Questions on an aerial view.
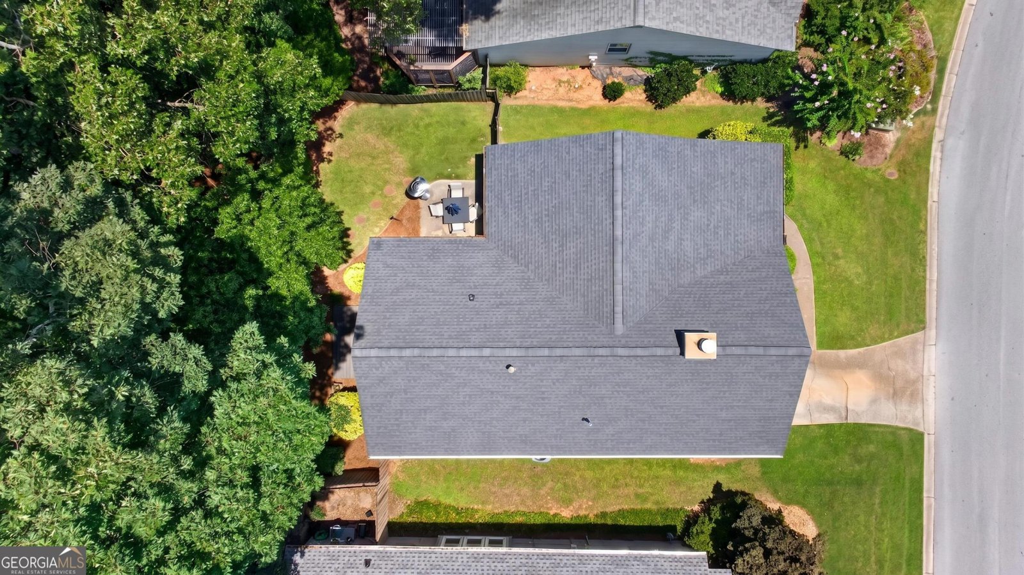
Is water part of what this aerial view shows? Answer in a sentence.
No, the picture contains no water.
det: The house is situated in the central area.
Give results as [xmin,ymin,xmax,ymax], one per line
[351,131,812,460]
